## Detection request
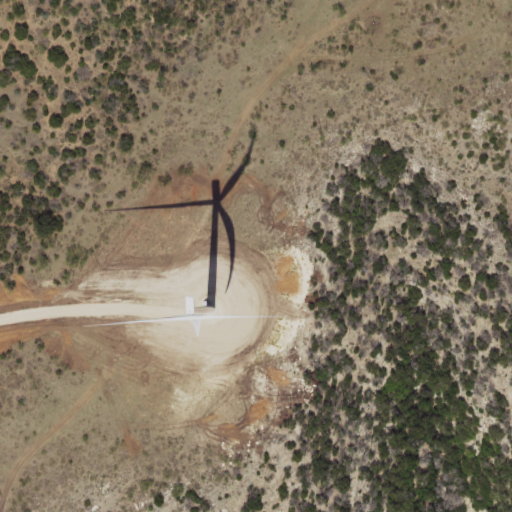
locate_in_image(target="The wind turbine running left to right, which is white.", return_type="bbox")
[80,298,240,336]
